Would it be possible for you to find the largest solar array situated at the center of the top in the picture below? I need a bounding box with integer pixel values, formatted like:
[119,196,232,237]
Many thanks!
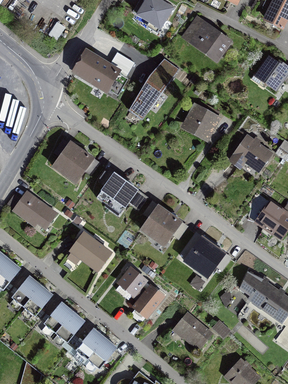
[131,83,162,117]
